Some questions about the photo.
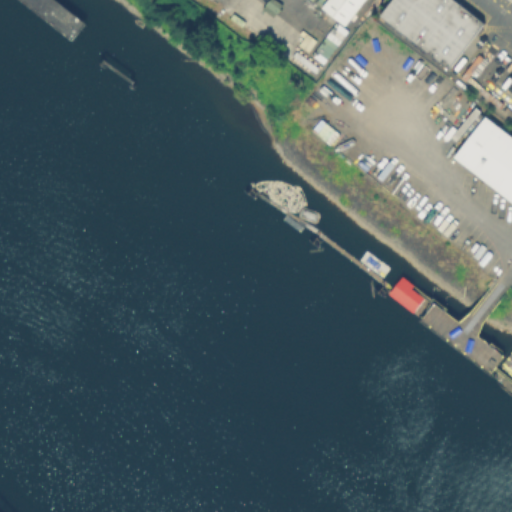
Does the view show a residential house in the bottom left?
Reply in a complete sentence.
No, in the bottom left there is no residential house.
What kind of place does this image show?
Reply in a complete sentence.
What you see here is a port.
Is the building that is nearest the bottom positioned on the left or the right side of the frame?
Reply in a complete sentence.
The building that is nearest the bottom is on the right side of the image.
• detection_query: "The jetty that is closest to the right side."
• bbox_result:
[421,280,509,374]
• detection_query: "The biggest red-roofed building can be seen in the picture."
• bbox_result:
[391,280,428,314]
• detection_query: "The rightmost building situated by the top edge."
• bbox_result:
[380,0,484,68]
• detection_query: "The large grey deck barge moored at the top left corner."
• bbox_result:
[14,0,84,42]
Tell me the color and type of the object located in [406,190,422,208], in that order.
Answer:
white vehicle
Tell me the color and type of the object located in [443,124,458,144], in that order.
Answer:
white vehicle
